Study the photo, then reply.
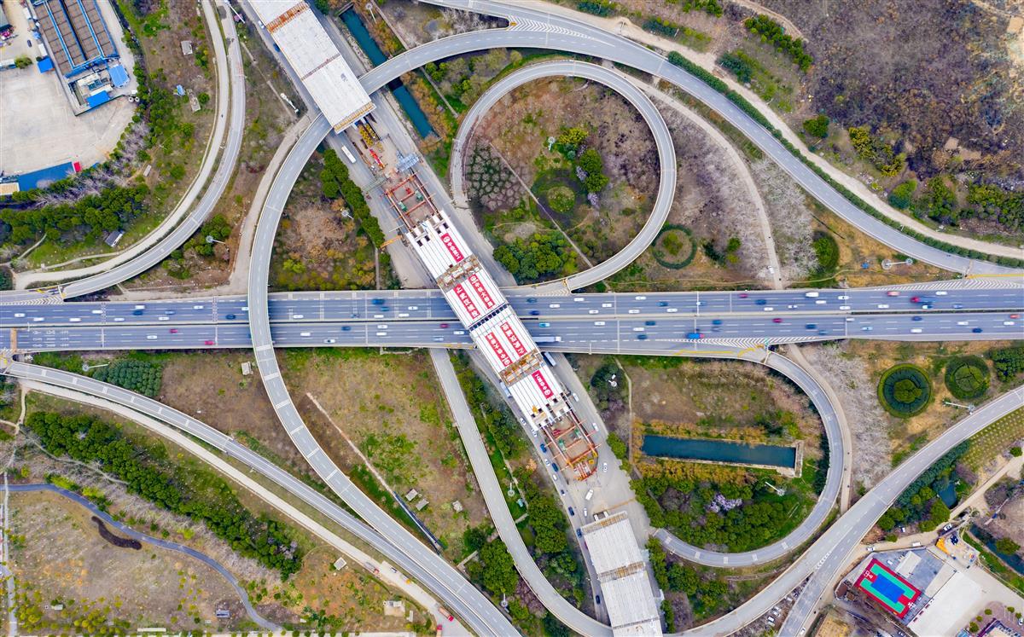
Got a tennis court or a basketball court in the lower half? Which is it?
basketball court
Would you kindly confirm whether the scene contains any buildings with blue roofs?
Yes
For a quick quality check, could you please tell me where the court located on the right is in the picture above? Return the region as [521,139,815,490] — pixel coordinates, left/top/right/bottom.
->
[854,558,921,620]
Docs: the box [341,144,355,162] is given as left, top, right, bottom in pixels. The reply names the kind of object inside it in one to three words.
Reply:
vehicle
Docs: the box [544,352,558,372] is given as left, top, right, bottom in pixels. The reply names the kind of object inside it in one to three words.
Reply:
vehicle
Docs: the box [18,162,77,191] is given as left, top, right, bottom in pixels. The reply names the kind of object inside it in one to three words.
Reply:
shed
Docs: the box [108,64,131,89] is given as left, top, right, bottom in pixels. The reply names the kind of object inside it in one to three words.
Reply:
building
